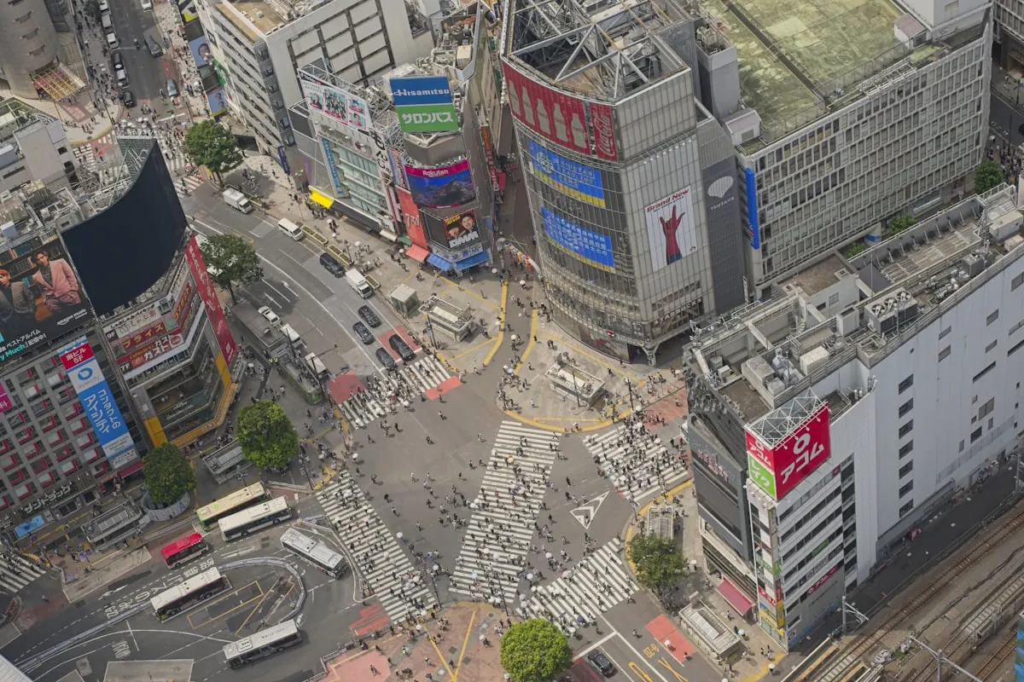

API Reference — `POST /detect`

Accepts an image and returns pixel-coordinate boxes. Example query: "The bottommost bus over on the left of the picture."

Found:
[226,623,303,671]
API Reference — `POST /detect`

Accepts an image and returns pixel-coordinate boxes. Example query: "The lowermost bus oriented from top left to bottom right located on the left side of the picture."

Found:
[284,529,349,583]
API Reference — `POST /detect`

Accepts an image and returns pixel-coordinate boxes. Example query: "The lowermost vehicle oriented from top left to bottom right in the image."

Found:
[586,649,615,679]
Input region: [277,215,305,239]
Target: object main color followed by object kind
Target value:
white vehicle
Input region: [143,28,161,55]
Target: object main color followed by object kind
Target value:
gray vehicle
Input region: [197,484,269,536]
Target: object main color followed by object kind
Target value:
white bus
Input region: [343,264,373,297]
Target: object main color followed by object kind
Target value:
white truck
